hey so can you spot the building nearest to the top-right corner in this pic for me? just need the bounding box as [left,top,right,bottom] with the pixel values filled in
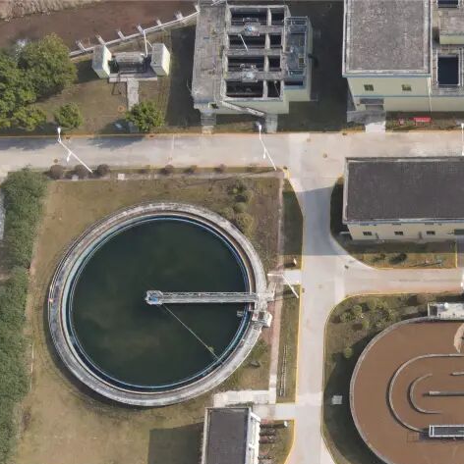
[343,0,435,123]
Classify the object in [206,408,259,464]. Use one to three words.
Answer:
building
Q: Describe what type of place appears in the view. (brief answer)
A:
industrial area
